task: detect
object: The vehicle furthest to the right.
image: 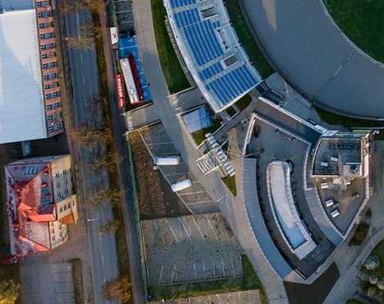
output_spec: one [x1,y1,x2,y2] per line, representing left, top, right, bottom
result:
[170,179,194,193]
